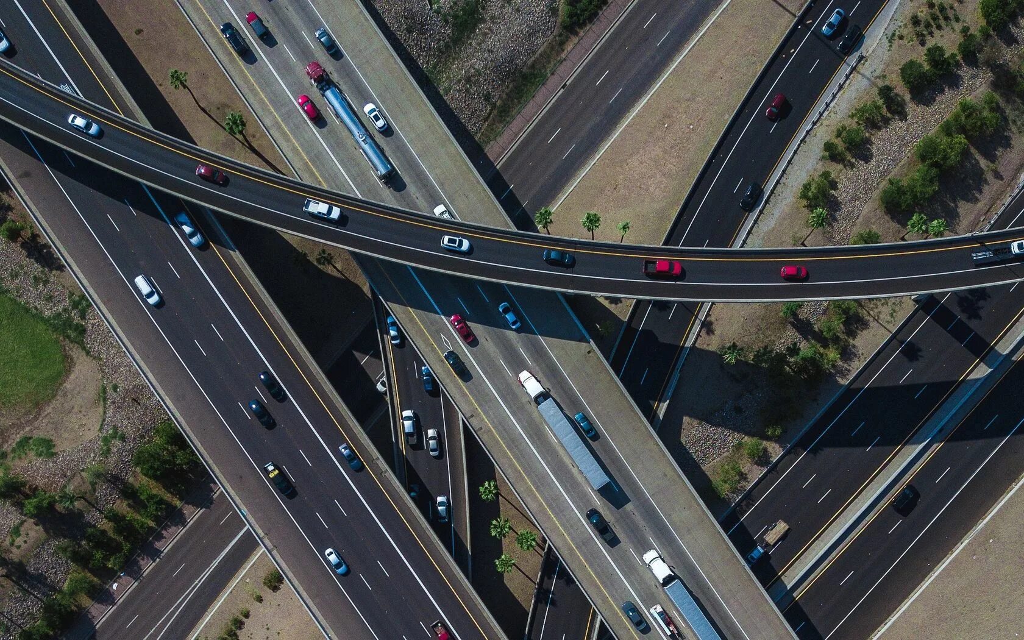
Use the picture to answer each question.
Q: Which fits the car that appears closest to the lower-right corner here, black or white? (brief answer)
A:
black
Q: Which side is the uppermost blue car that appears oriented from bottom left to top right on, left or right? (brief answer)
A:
right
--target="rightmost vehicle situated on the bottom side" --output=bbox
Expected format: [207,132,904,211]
[893,484,919,511]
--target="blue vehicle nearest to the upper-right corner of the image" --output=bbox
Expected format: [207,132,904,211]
[821,8,844,38]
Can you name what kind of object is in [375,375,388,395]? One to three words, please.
vehicle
